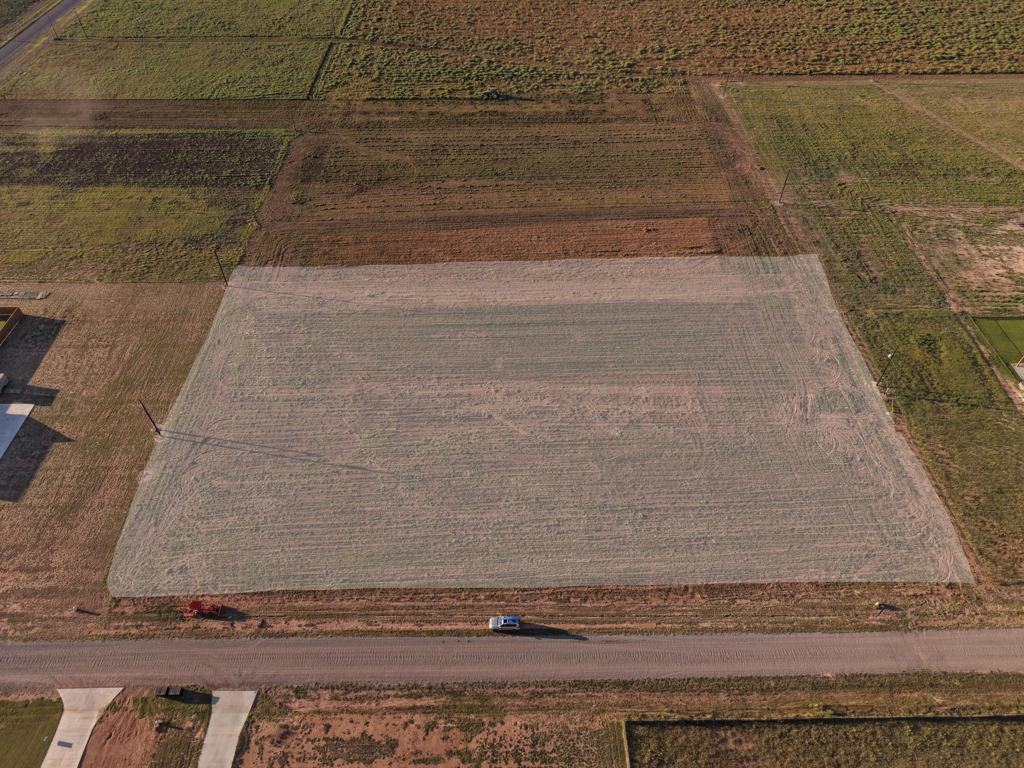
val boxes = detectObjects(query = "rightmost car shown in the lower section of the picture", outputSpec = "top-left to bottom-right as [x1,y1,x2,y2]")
[489,617,521,632]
